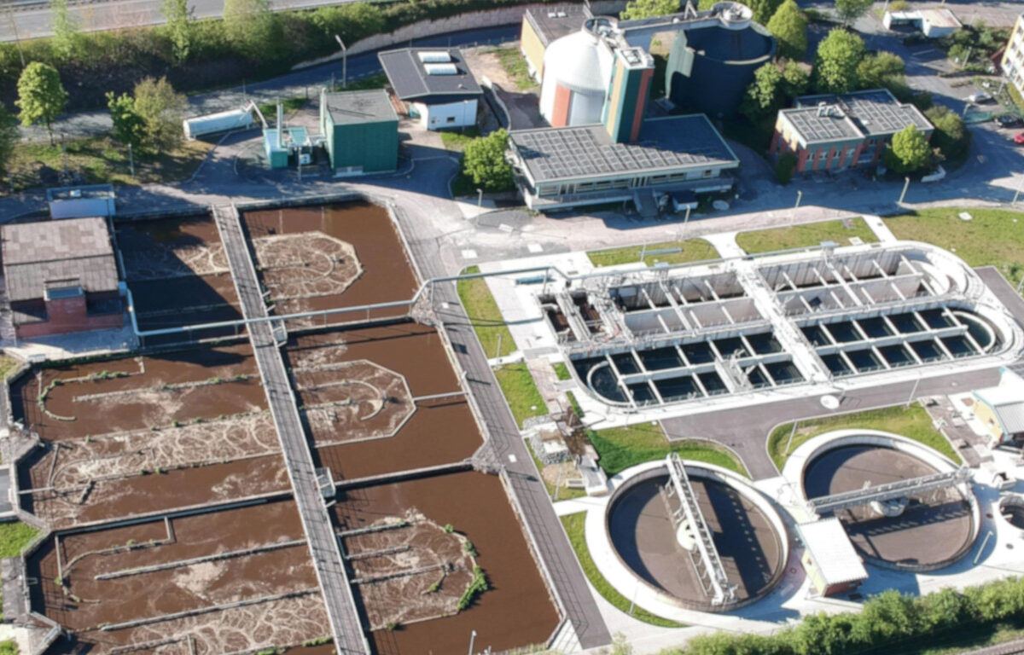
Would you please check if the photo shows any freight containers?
Yes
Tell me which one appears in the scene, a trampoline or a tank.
tank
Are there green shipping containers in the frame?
No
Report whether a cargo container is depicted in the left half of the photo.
Yes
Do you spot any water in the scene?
Yes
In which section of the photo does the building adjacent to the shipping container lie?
left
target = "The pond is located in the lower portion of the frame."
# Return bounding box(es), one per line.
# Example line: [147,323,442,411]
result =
[3,191,568,655]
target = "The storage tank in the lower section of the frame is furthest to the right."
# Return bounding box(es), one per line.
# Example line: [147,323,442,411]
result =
[991,489,1024,545]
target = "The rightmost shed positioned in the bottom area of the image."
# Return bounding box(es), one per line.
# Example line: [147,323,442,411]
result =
[971,386,1024,445]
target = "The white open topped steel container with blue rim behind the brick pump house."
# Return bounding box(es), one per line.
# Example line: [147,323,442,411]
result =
[51,184,117,215]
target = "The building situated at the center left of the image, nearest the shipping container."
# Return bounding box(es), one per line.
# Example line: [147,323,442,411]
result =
[0,213,121,338]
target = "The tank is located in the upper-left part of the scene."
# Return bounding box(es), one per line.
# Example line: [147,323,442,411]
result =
[184,105,255,139]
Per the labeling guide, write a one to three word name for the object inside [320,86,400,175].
building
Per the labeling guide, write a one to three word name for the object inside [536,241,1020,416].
storage tank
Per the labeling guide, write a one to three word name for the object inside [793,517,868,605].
shed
